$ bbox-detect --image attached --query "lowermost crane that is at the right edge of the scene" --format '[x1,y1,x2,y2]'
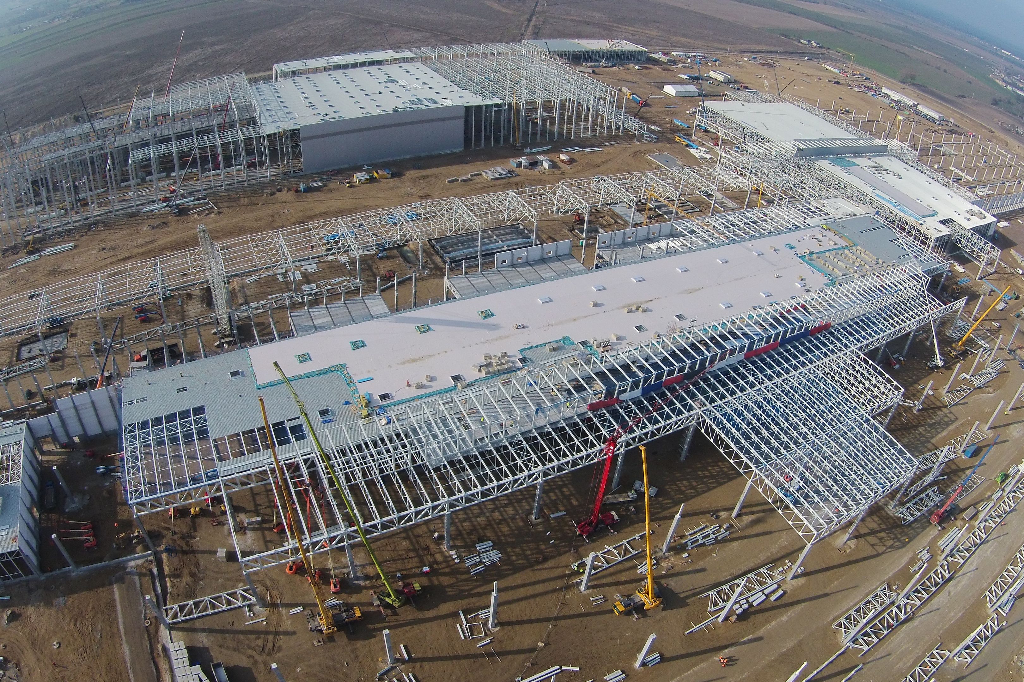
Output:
[921,450,991,536]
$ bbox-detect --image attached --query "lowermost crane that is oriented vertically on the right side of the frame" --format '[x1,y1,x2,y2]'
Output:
[595,439,677,629]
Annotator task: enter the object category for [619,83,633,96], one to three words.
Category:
vehicle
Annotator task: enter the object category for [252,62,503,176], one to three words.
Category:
building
